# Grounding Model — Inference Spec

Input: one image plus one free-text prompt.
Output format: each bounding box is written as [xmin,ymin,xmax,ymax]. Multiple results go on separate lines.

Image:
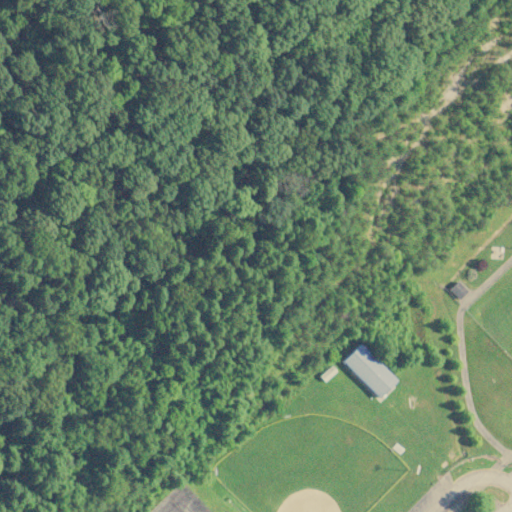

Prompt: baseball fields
[216,414,410,512]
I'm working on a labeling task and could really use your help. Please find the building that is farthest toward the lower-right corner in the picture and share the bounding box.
[344,344,398,400]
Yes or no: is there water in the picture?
No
